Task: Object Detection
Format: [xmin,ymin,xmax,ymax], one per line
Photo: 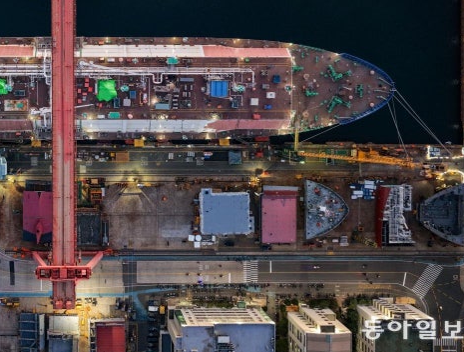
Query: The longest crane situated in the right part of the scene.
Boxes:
[285,145,419,169]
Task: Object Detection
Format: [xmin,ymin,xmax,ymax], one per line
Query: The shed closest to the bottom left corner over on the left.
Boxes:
[19,308,45,352]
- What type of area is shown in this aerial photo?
port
